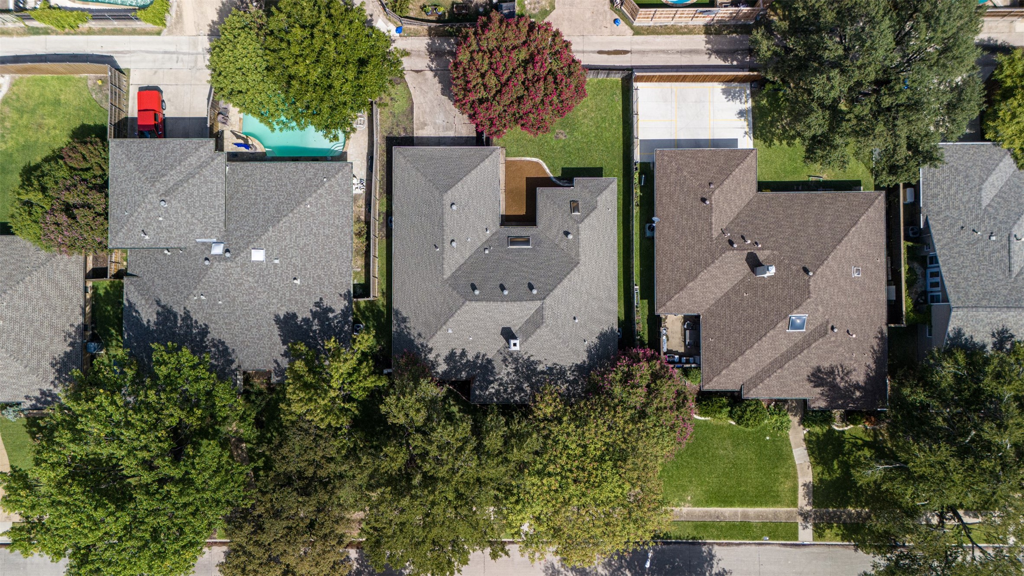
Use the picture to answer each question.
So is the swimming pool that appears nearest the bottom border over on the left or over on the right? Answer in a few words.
left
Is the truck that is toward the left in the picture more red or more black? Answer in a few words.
red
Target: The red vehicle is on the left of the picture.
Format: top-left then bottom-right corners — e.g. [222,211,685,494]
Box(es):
[136,92,168,137]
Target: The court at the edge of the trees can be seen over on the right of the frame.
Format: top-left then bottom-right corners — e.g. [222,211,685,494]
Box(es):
[637,81,753,162]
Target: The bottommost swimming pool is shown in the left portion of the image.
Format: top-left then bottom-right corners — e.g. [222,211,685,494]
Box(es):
[238,88,351,161]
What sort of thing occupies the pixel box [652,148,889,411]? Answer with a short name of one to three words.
house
